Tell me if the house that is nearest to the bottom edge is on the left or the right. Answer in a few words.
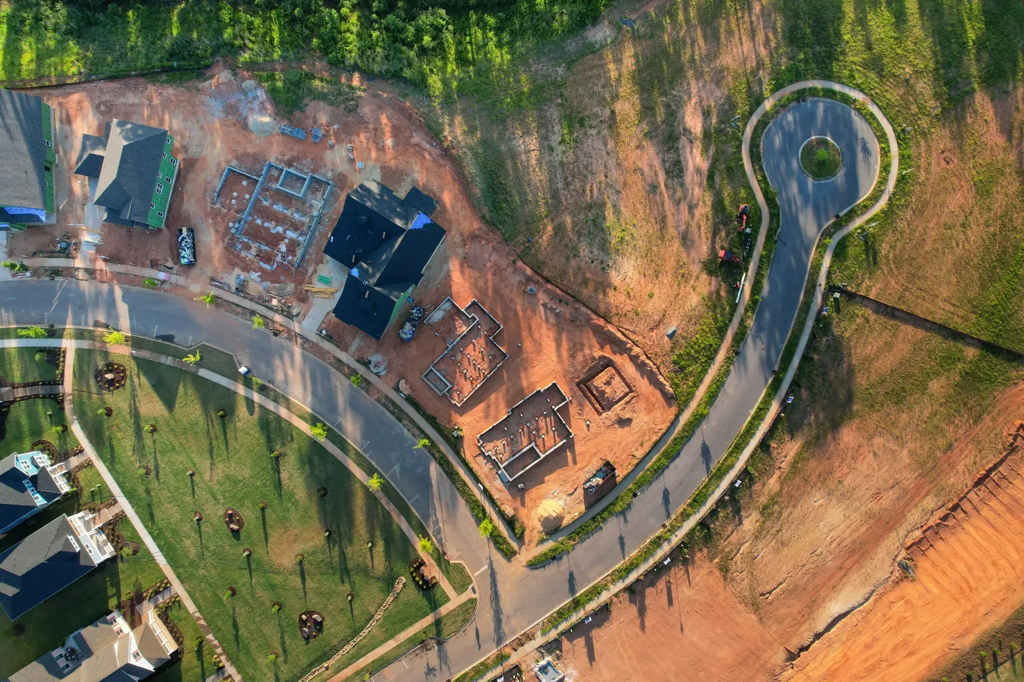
left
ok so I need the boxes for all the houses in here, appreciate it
[0,451,75,533]
[324,179,446,340]
[74,118,181,230]
[5,608,178,682]
[0,90,59,230]
[0,506,117,624]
